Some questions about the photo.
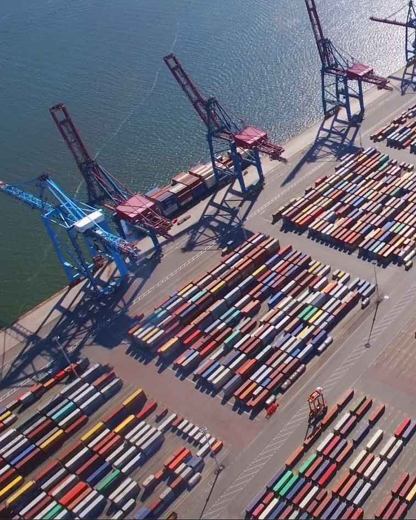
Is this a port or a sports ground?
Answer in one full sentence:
The area seen from above is a port.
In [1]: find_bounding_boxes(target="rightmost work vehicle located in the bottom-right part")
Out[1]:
[306,389,328,422]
